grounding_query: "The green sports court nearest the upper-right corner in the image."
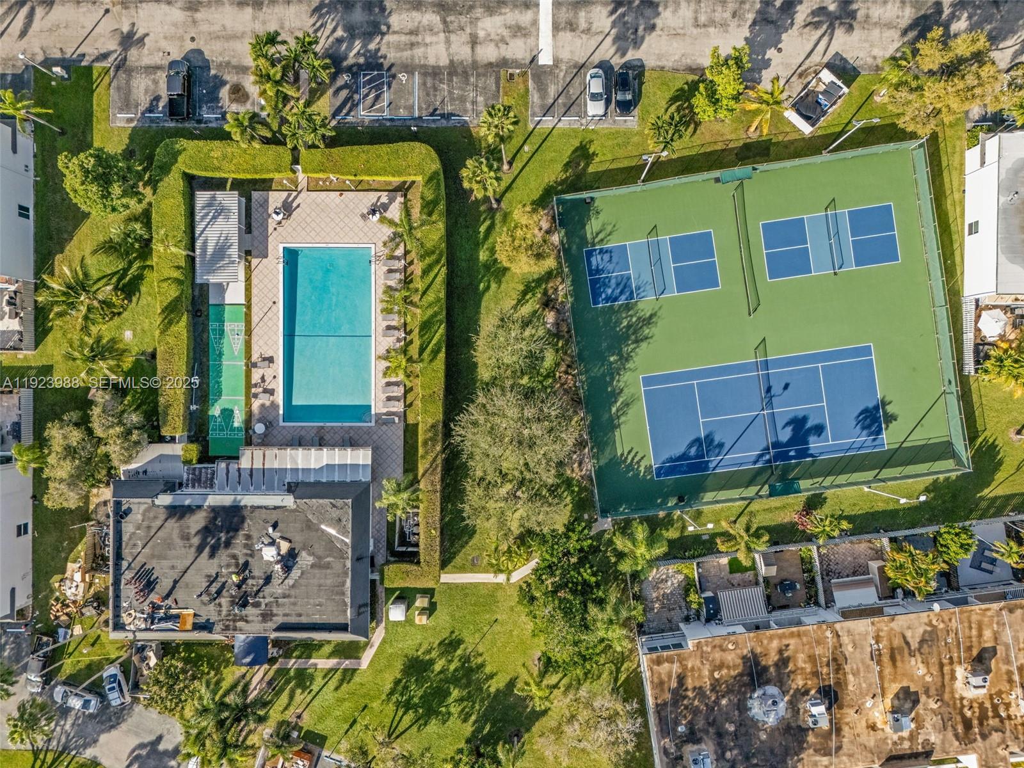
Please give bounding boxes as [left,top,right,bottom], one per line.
[553,149,953,512]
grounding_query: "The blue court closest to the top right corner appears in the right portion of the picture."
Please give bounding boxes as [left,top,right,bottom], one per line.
[760,203,901,281]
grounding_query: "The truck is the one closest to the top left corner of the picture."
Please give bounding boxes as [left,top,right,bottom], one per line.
[160,58,188,118]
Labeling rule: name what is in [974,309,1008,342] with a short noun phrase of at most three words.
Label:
umbrella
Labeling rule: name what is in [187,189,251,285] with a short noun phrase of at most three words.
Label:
building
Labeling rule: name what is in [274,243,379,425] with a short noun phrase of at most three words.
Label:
swimming pool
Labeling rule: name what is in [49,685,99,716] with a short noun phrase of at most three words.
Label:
car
